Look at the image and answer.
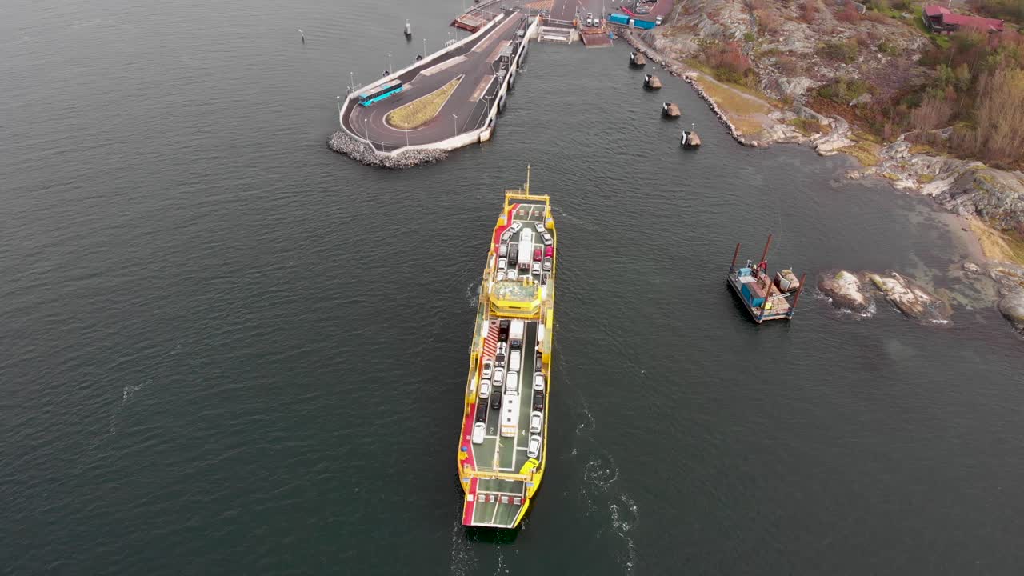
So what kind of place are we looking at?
port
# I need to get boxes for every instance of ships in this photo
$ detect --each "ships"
[456,164,556,530]
[725,233,823,326]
